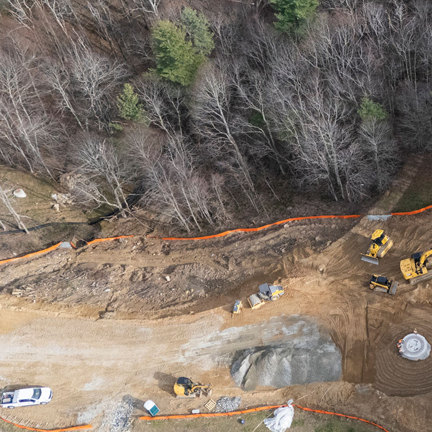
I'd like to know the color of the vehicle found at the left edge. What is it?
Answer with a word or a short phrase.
white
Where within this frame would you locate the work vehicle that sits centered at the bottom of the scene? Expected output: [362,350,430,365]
[172,378,216,401]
